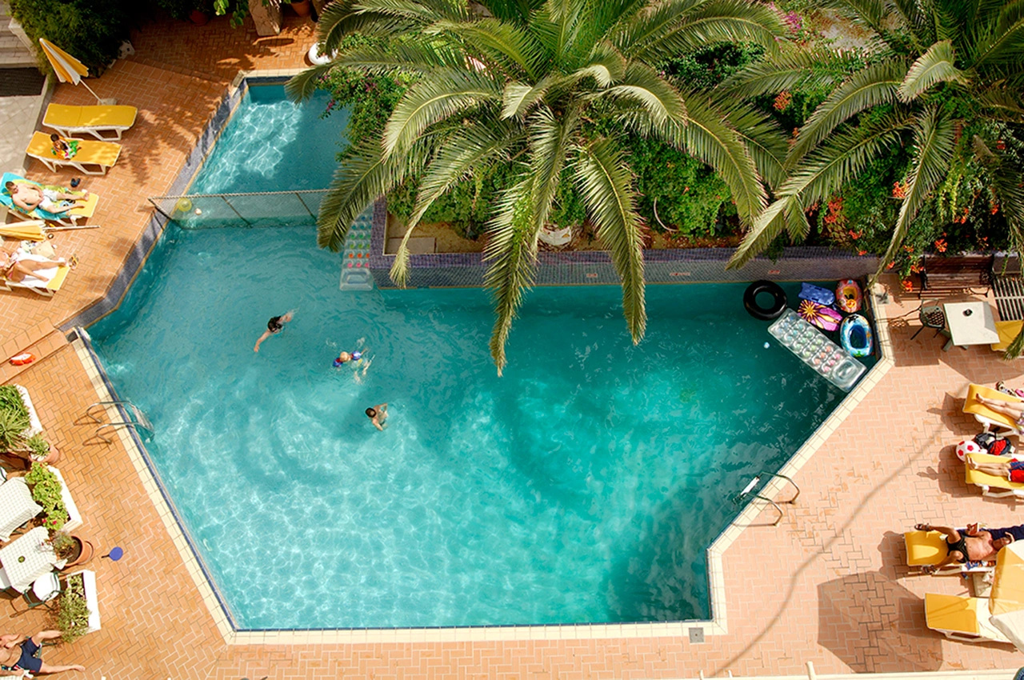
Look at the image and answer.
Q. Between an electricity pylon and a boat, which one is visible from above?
boat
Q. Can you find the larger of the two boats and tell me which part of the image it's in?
right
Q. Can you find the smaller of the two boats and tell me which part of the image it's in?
right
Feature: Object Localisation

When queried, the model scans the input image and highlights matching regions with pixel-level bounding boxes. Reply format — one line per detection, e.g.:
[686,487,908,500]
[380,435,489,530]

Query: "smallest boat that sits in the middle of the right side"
[836,282,863,311]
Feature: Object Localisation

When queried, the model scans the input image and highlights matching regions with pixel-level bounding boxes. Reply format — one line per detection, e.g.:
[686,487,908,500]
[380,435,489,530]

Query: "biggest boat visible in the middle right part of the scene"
[840,314,875,356]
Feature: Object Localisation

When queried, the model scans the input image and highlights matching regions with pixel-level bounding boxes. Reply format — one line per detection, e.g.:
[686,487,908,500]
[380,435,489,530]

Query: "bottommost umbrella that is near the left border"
[0,220,99,243]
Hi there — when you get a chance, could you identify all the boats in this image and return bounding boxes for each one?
[836,282,863,311]
[840,314,875,356]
